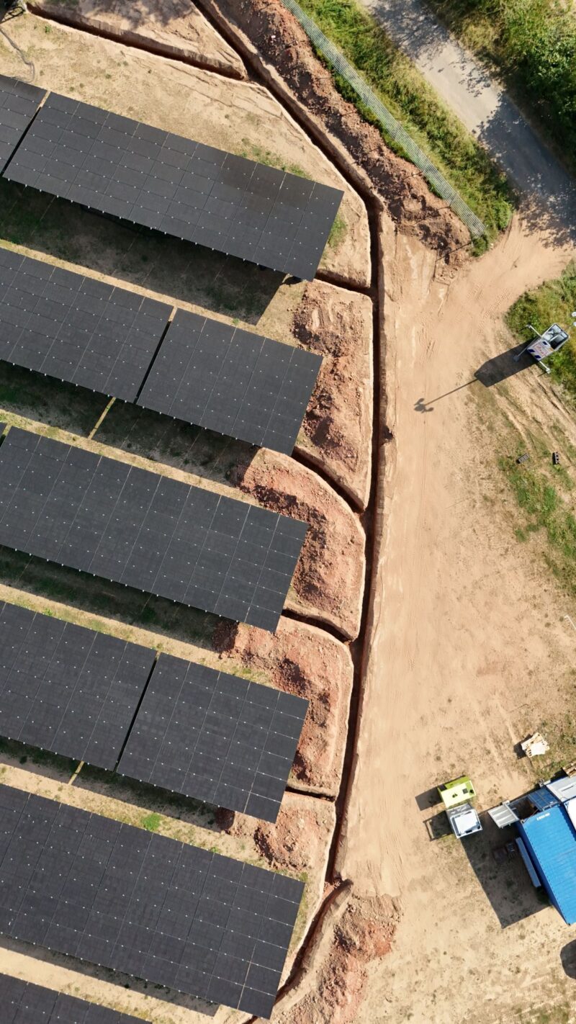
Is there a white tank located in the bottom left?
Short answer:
No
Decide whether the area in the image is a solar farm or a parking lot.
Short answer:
solar farm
